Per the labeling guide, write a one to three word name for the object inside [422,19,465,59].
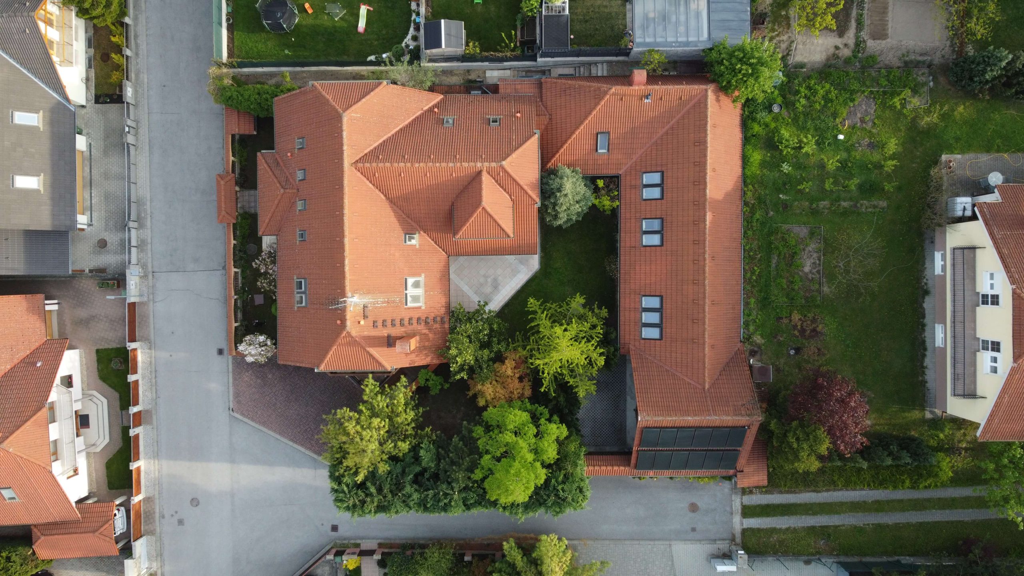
shed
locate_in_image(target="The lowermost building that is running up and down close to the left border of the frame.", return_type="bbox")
[0,288,108,527]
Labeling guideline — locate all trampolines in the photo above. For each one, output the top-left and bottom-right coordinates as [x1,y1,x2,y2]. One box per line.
[252,0,303,36]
